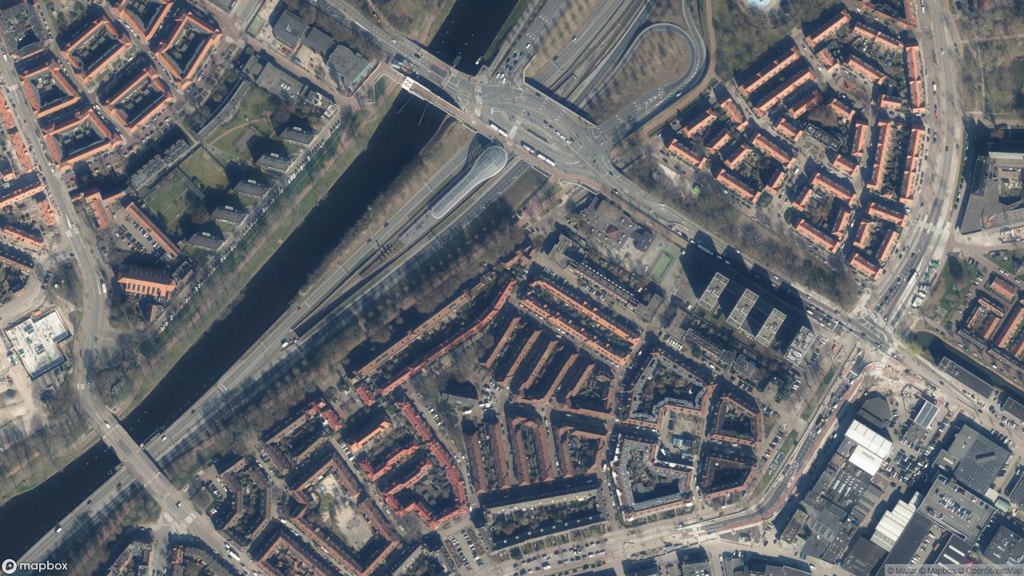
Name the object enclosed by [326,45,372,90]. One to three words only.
building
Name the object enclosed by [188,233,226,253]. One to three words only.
building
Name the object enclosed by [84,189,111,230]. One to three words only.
house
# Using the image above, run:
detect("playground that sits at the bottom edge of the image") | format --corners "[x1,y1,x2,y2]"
[318,474,374,551]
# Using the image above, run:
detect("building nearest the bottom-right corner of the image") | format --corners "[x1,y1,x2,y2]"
[984,526,1024,572]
